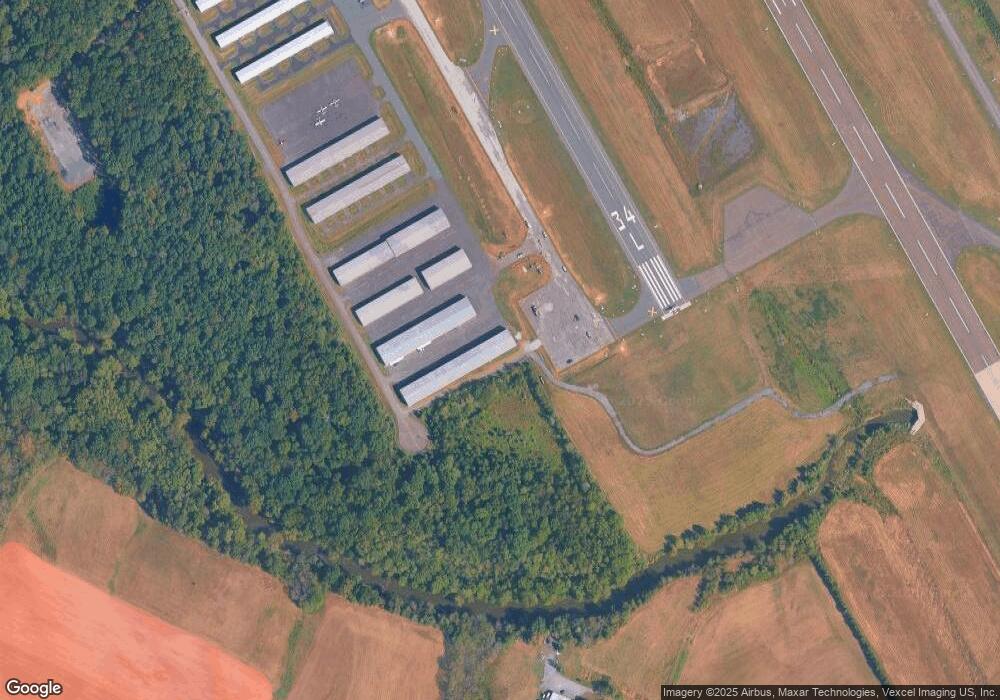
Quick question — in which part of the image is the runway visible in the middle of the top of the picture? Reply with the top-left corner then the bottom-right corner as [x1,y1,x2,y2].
[482,0,692,321]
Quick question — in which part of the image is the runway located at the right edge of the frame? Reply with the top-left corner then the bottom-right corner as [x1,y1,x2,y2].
[762,0,1000,425]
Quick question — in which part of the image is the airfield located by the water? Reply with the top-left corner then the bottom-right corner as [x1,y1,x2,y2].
[175,0,1000,453]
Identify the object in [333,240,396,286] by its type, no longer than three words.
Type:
hangar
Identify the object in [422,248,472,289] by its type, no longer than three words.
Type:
hangar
